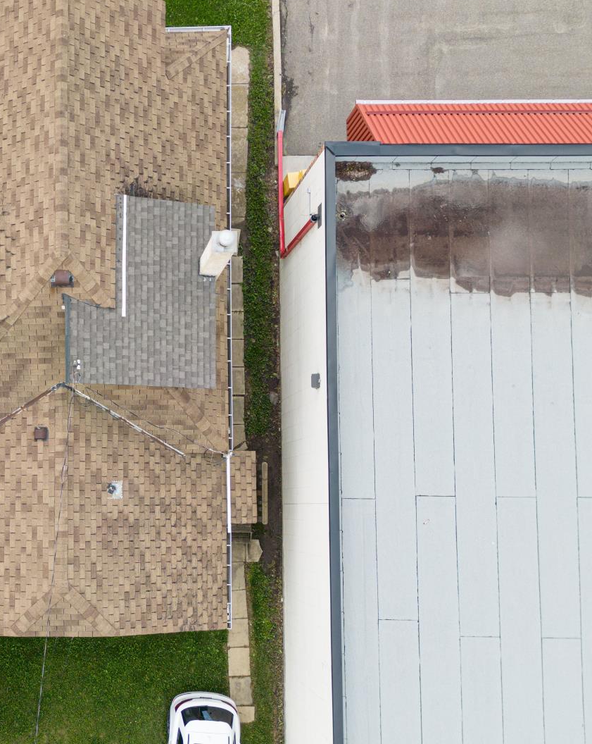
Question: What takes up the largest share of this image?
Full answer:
Most of the picture is covered by buildings.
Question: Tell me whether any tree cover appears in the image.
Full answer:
No, there's no tree cover in this view.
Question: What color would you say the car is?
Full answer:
In this view, the car is white.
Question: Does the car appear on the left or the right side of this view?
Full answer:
The car sits on the left side.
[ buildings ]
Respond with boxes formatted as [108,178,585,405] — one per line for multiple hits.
[0,0,237,641]
[272,102,592,744]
